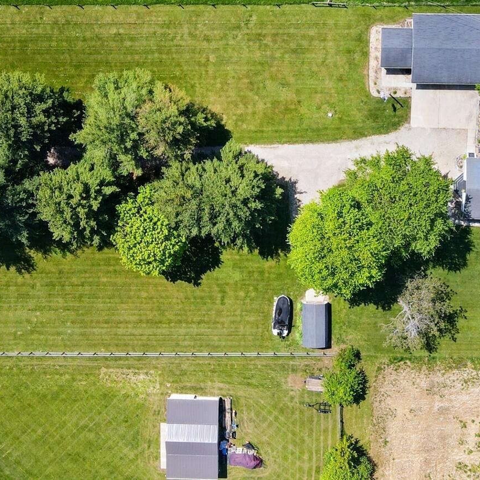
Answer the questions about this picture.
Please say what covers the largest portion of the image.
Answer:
grass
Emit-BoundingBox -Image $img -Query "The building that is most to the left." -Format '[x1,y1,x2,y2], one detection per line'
[164,393,220,480]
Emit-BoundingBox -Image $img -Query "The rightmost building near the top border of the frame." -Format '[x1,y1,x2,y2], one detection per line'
[412,13,480,84]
